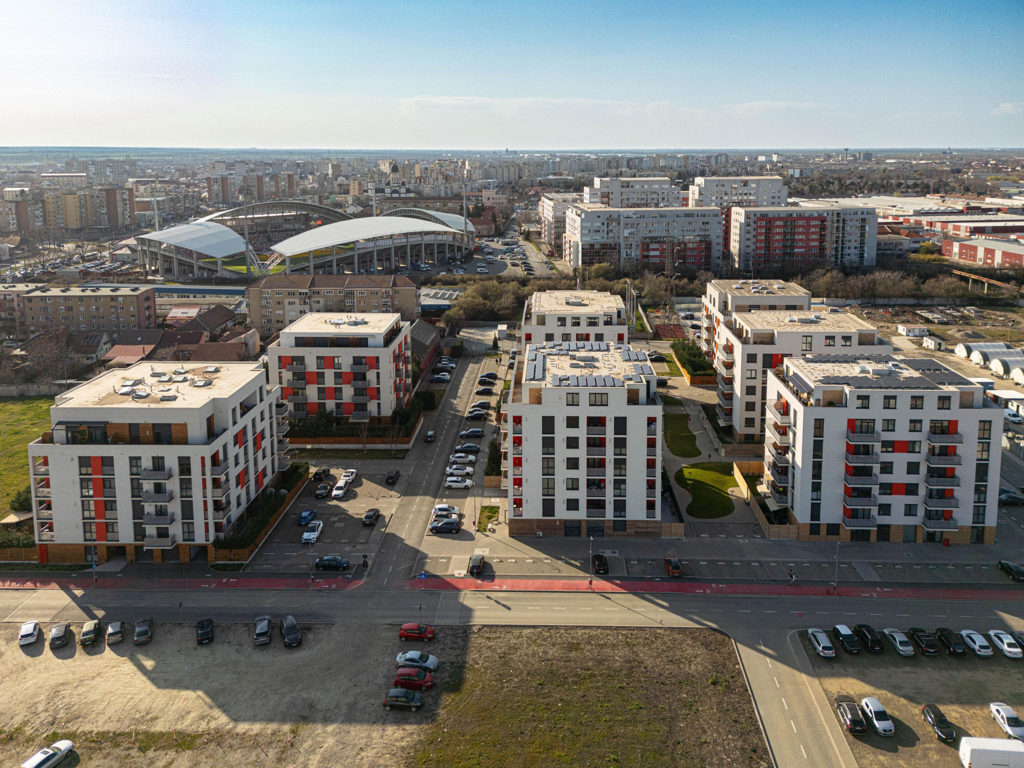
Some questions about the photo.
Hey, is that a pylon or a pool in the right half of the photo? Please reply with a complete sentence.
You can see a pylon in the right half of the photo.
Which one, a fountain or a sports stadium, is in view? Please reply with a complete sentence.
Visible in the photo is a sports stadium.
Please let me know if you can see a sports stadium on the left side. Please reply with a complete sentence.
Yes, a sports stadium is visible on the left side.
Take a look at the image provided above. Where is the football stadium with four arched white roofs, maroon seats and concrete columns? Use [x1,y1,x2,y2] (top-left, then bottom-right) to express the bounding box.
[134,202,474,278]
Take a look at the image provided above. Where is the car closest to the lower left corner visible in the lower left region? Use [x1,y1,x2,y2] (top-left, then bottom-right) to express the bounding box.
[17,737,81,768]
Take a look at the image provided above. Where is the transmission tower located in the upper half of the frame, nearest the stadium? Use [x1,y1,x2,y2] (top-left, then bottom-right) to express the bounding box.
[659,234,685,315]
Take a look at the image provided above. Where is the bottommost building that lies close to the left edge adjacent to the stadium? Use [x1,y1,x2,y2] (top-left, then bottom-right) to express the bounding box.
[29,362,296,562]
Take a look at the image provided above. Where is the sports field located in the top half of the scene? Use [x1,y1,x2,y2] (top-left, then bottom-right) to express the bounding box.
[180,244,393,271]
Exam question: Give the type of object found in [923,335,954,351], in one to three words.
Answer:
shed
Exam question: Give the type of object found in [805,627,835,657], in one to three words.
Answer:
car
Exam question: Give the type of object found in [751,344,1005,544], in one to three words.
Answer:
building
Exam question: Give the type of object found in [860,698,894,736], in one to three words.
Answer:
car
